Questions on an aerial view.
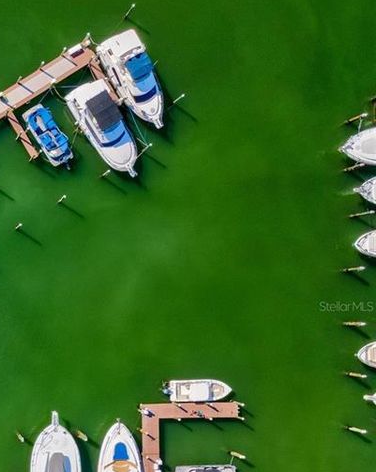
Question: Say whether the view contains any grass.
No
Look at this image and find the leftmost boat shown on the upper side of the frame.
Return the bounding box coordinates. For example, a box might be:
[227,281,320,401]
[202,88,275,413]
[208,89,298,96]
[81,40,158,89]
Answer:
[24,86,75,173]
